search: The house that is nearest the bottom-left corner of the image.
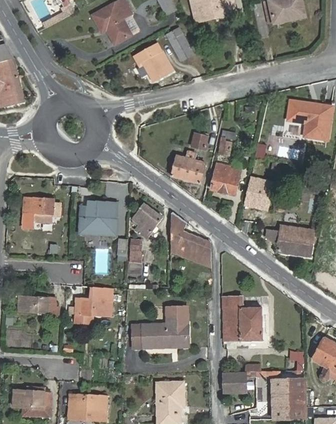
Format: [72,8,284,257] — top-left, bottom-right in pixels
[10,390,52,419]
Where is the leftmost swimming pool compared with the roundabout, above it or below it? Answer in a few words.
above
